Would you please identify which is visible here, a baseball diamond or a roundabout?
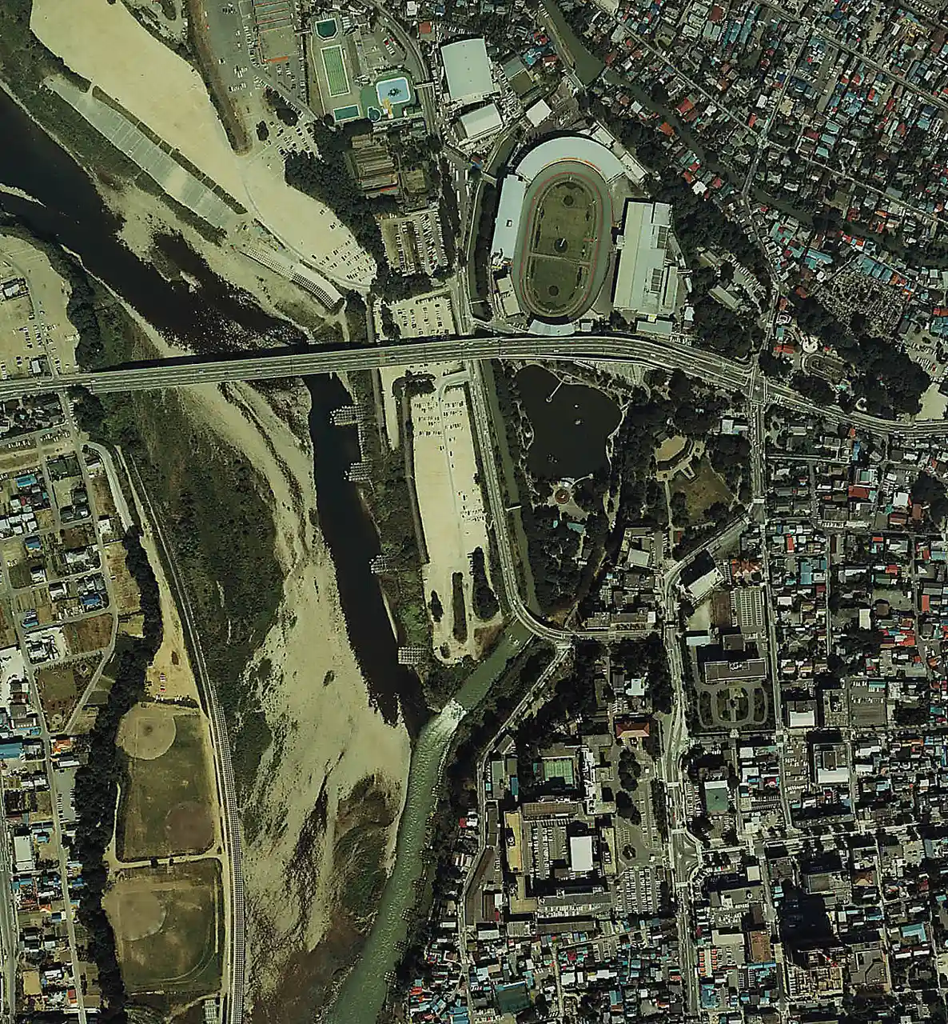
baseball diamond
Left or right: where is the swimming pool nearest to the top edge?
left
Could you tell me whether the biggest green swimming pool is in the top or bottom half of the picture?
top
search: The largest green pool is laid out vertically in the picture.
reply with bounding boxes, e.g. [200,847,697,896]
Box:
[320,44,350,97]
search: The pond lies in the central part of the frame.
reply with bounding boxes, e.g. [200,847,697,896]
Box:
[516,365,622,478]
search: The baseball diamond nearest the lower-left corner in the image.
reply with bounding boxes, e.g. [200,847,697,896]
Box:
[102,861,220,993]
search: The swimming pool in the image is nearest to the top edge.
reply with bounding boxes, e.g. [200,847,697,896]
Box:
[315,18,339,39]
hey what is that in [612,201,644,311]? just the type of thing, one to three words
building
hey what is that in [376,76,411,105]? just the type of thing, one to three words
swimming pool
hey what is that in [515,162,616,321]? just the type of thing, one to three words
race track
